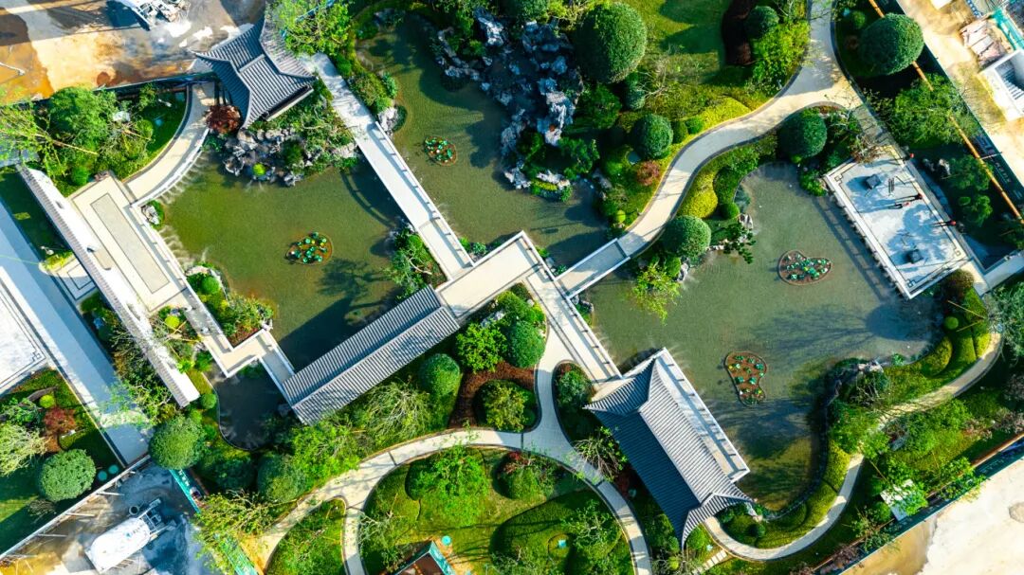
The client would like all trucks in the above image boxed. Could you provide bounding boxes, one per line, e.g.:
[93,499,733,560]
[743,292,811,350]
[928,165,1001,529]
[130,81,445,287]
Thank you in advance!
[108,0,170,37]
[57,506,186,575]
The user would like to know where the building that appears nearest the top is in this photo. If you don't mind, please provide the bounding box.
[192,1,323,131]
